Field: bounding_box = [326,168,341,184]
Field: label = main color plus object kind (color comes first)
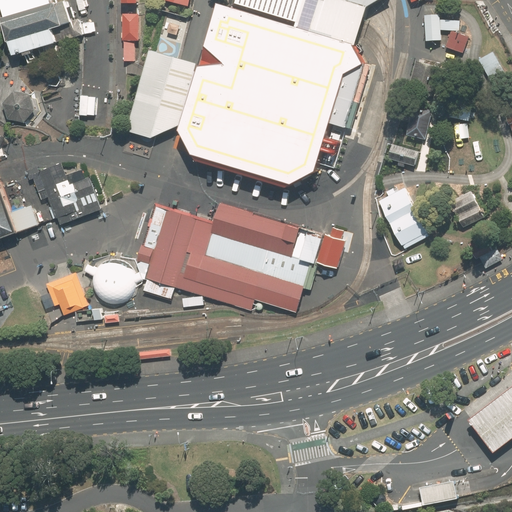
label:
white car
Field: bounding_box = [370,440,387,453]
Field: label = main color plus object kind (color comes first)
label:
white vehicle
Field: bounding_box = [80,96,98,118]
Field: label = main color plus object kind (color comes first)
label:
white tent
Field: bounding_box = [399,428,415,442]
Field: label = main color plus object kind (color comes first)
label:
gray vehicle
